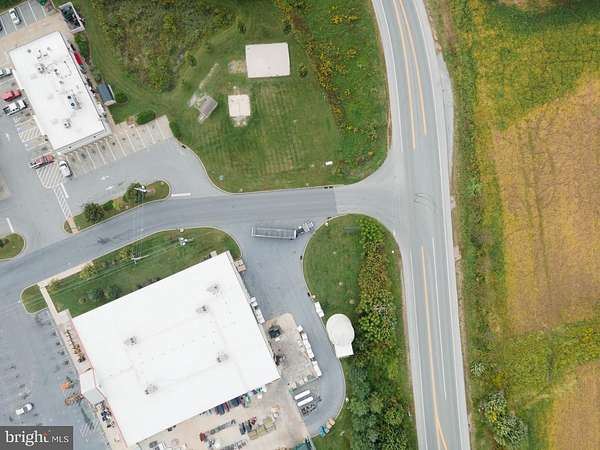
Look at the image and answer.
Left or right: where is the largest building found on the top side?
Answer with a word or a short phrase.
left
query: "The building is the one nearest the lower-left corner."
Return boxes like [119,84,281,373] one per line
[71,250,283,446]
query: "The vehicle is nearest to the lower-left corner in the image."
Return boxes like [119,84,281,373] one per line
[14,401,35,415]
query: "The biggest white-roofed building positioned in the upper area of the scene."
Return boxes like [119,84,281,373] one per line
[11,30,110,155]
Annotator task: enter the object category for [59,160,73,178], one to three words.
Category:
car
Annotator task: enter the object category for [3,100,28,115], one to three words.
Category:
vehicle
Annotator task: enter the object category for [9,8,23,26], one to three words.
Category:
vehicle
